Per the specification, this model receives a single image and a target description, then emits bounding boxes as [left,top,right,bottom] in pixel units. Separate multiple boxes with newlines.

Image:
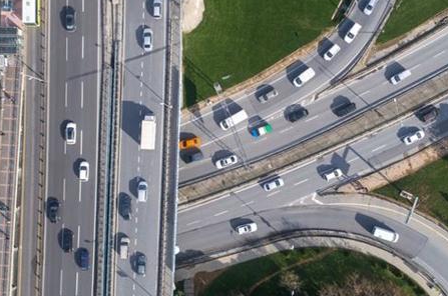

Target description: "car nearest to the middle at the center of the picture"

[217,155,238,167]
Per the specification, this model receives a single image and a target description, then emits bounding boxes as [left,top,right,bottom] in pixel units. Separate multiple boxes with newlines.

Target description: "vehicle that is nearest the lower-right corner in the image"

[374,226,398,241]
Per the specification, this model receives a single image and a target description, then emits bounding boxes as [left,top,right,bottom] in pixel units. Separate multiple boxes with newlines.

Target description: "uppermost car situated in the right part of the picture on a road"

[362,0,378,16]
